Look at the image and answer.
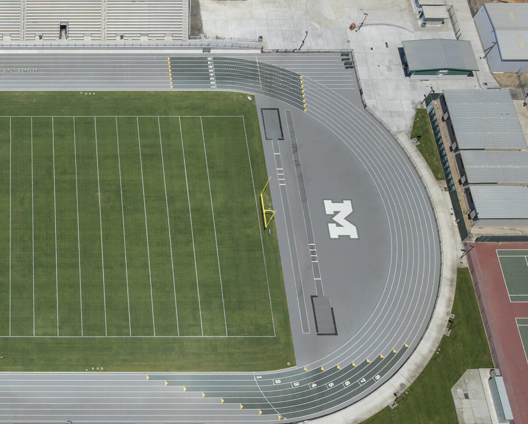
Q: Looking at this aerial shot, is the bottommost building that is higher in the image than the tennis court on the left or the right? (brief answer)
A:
right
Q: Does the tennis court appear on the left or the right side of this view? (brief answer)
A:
right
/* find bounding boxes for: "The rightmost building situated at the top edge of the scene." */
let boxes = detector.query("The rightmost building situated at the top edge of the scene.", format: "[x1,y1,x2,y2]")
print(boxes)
[474,2,528,72]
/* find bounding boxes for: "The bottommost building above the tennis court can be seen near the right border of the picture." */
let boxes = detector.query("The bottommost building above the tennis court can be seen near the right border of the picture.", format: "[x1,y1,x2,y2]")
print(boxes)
[464,185,528,226]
